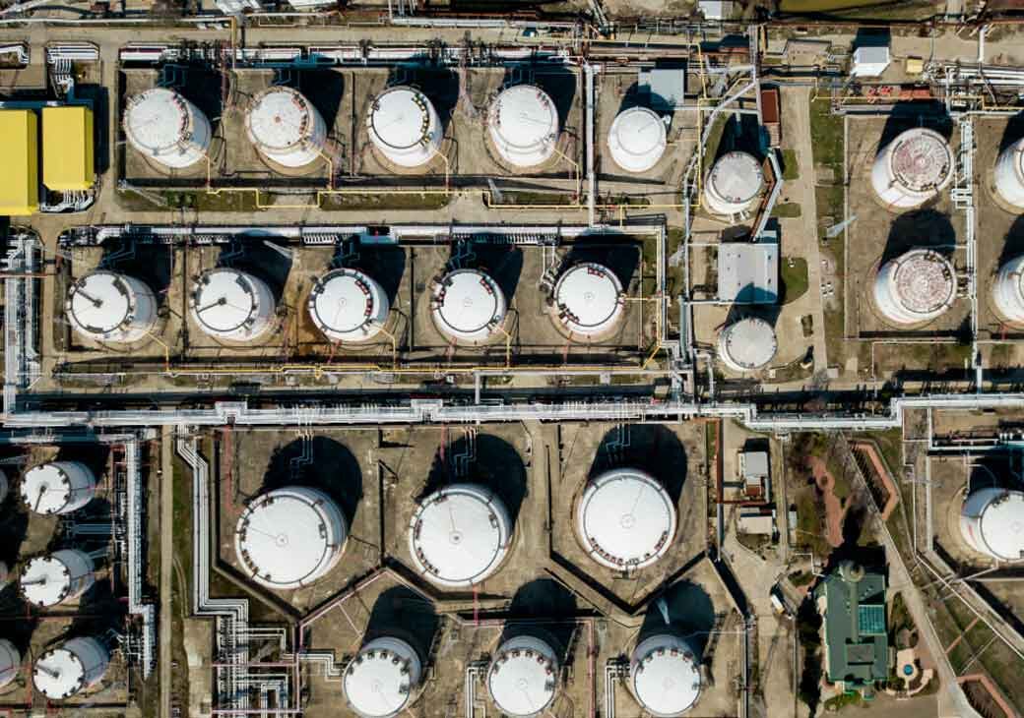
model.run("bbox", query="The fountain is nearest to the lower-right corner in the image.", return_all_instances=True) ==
[897,650,918,690]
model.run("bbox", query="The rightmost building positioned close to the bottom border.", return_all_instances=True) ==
[820,556,885,697]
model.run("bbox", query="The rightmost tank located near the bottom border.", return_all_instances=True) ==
[626,631,705,717]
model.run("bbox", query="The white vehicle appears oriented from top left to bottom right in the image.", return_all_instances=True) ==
[770,594,787,615]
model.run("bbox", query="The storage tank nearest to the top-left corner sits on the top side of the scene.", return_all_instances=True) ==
[124,86,216,172]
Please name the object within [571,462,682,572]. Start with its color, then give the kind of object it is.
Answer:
white storage tank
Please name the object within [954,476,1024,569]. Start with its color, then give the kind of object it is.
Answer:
white storage tank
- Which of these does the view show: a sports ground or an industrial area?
industrial area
